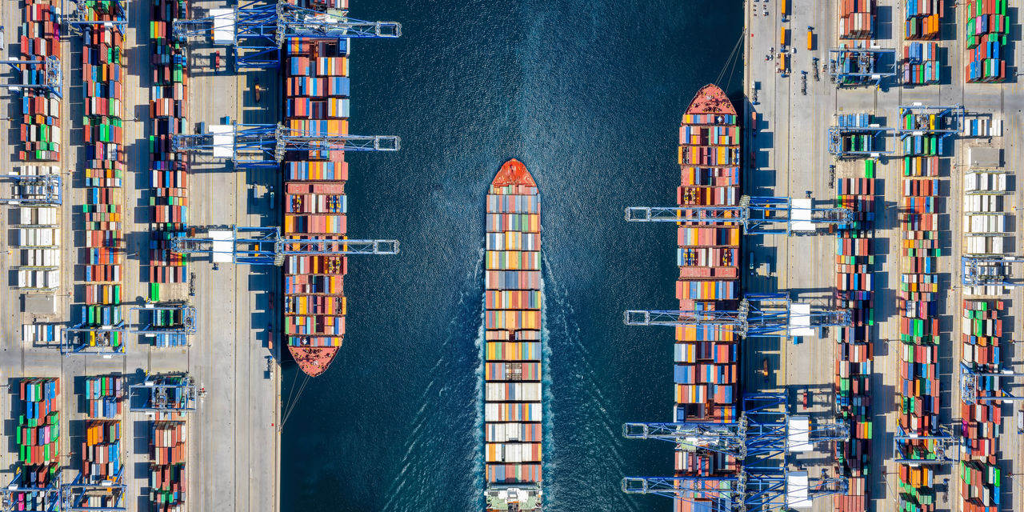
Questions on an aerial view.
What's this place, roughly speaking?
port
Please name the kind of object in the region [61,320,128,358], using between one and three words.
crane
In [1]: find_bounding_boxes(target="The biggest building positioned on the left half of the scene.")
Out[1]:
[26,294,59,313]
